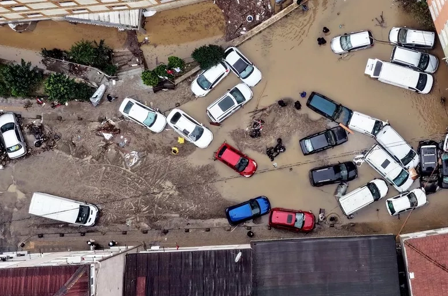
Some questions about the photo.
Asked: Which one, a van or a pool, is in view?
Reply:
van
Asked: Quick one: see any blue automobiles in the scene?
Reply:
Yes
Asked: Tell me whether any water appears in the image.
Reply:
Yes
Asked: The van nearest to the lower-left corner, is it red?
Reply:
No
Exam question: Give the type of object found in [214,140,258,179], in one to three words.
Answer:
car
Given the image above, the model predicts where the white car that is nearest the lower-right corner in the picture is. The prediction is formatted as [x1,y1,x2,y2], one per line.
[381,186,432,219]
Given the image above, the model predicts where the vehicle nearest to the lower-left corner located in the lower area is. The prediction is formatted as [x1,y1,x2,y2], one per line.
[21,192,100,227]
